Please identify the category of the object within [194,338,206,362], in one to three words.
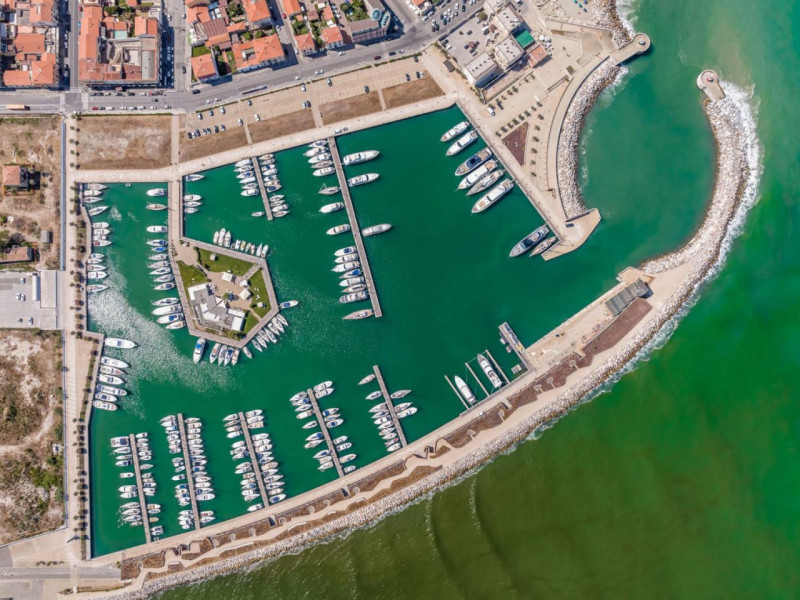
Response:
boat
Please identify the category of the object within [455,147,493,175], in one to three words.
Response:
boat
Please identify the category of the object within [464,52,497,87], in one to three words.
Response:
building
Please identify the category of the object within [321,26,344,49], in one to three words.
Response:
house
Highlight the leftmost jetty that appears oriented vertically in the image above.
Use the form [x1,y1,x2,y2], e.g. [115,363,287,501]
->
[130,434,152,543]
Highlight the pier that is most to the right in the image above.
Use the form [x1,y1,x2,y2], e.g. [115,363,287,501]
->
[695,70,725,103]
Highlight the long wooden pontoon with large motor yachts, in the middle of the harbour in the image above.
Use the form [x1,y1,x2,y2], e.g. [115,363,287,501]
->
[329,138,382,318]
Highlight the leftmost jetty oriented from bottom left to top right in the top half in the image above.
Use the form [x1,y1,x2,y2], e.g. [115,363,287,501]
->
[610,33,651,68]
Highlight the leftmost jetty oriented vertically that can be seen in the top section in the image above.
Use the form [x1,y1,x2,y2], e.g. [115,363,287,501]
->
[252,158,273,220]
